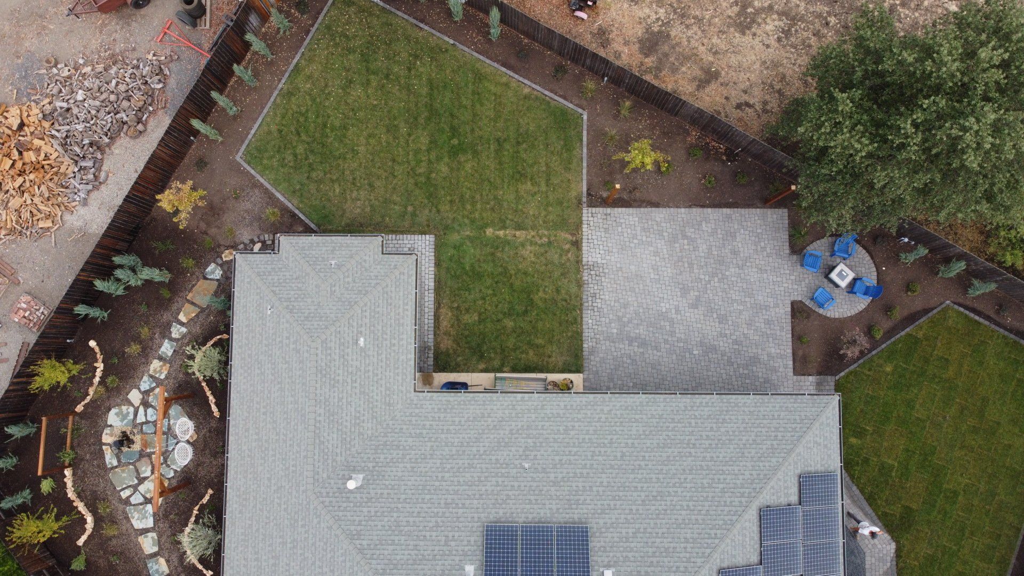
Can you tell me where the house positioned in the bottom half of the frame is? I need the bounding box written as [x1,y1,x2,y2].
[222,234,846,576]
